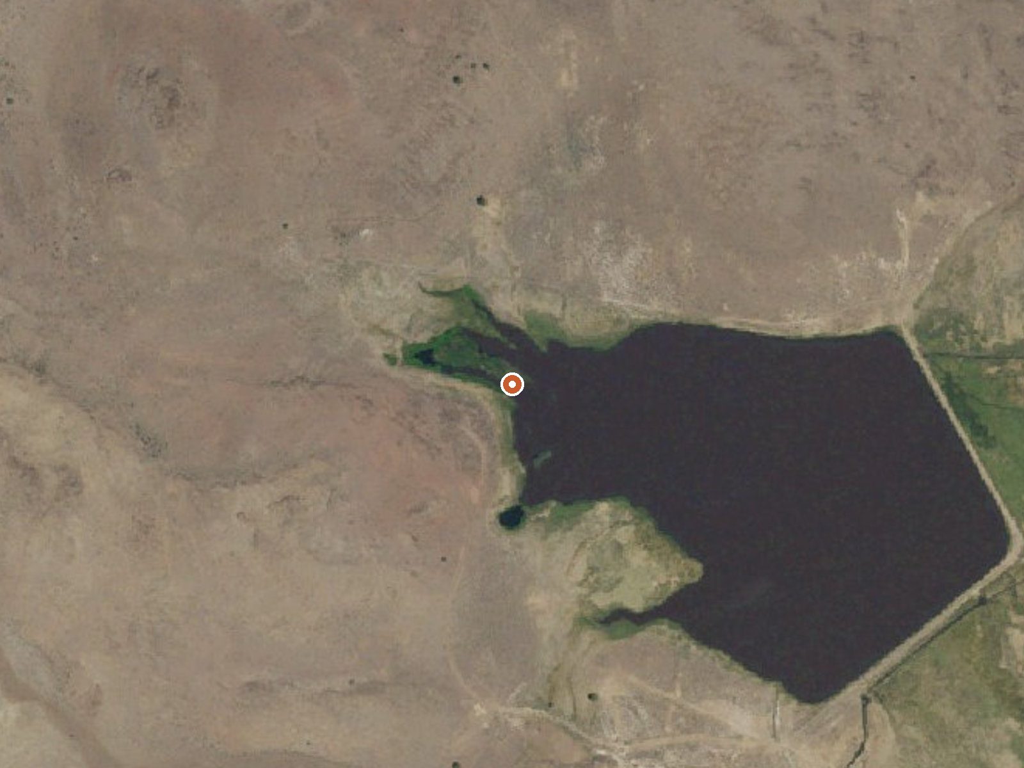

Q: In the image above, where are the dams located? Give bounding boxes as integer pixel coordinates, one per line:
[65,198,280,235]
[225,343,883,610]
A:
[833,323,1020,697]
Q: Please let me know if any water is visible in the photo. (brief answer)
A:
Yes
